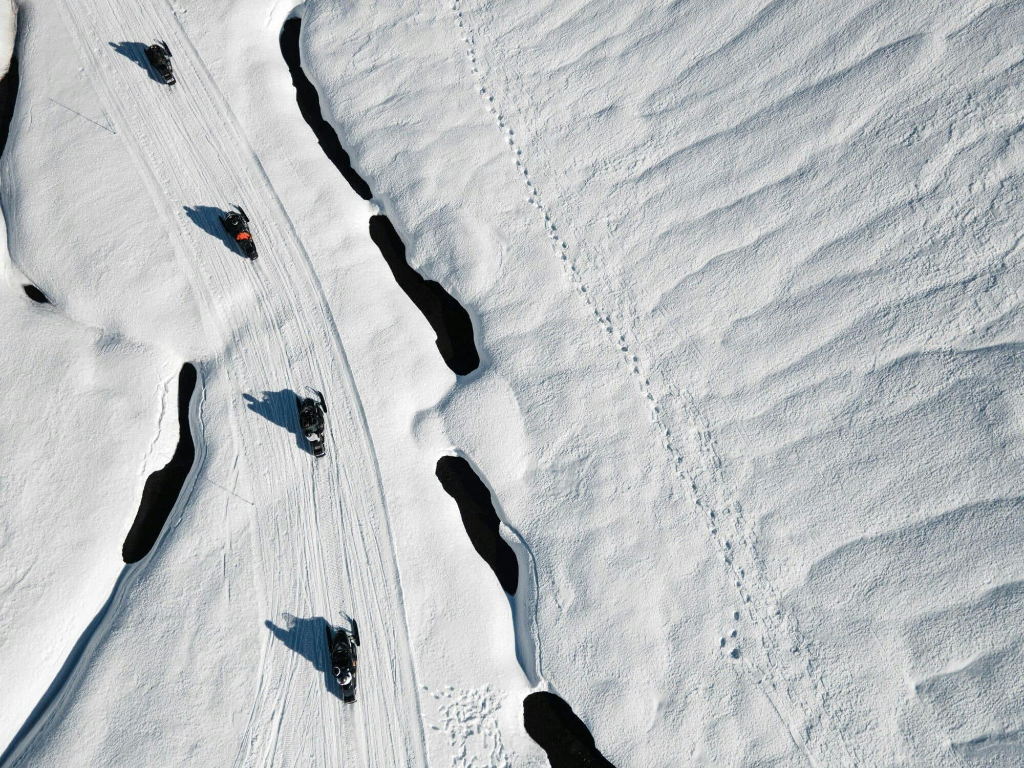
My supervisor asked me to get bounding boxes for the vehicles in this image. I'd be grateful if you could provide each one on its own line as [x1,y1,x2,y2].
[326,617,363,706]
[143,40,177,87]
[216,203,257,258]
[294,390,329,459]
